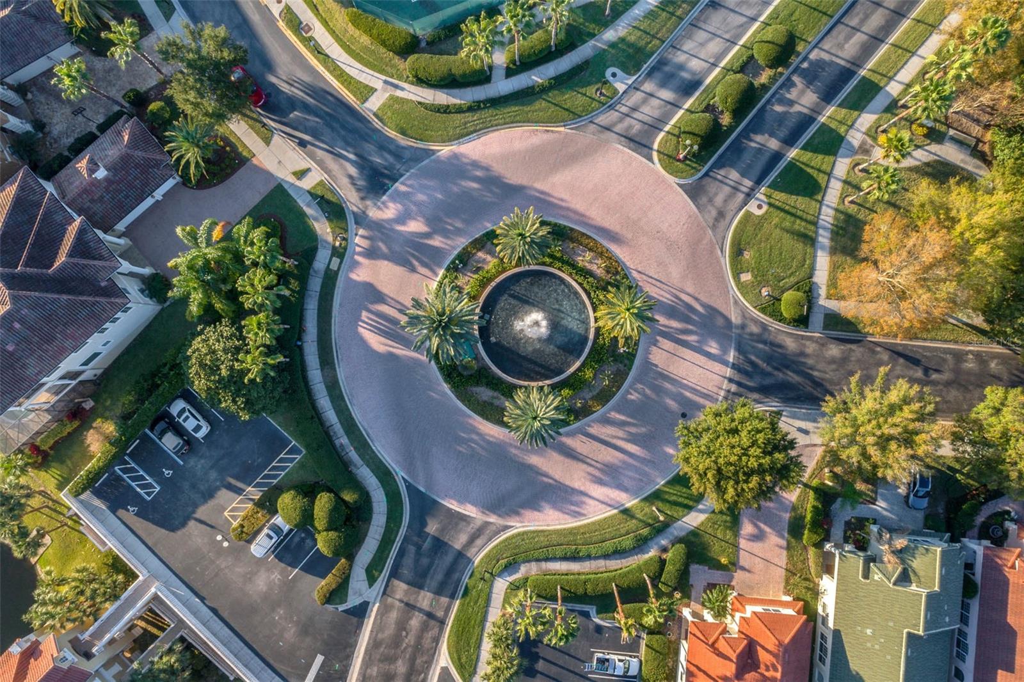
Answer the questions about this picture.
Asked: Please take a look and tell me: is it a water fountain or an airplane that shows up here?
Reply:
water fountain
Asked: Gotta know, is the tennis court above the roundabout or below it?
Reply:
above it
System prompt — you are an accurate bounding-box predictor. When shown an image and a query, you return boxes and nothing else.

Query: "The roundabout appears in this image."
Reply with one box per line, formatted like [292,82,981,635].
[339,129,737,528]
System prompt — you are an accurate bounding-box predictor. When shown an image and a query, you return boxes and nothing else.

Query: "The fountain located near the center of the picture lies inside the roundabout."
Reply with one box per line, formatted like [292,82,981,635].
[479,266,596,383]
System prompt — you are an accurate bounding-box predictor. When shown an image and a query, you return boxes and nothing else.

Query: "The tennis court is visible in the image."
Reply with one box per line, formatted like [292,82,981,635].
[366,0,512,34]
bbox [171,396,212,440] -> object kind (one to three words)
car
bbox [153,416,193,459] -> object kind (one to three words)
car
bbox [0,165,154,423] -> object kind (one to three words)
house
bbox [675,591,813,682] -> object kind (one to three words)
house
